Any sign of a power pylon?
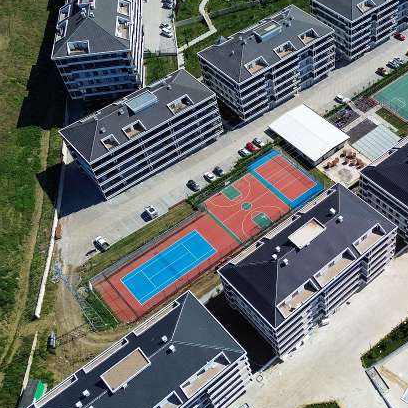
Yes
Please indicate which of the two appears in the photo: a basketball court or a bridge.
basketball court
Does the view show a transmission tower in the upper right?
No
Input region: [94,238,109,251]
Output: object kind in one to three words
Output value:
vehicle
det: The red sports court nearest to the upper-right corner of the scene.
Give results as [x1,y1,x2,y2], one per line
[248,149,324,207]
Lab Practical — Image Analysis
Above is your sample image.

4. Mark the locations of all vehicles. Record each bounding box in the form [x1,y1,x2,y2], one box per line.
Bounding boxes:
[94,238,109,251]
[389,59,402,68]
[332,91,346,103]
[160,29,174,35]
[252,138,265,148]
[160,3,173,9]
[145,207,158,220]
[376,68,388,77]
[45,331,62,353]
[204,173,216,183]
[187,181,200,192]
[238,148,250,158]
[246,143,257,152]
[159,23,171,29]
[213,166,224,176]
